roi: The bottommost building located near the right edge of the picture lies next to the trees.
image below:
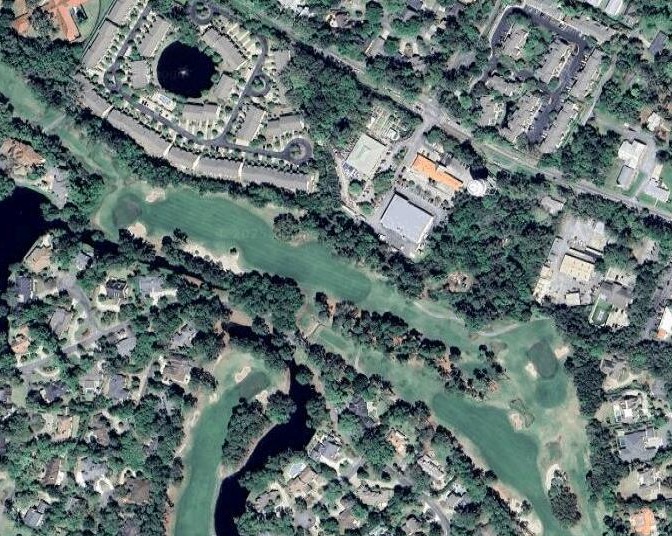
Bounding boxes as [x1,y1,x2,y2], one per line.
[629,508,659,534]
